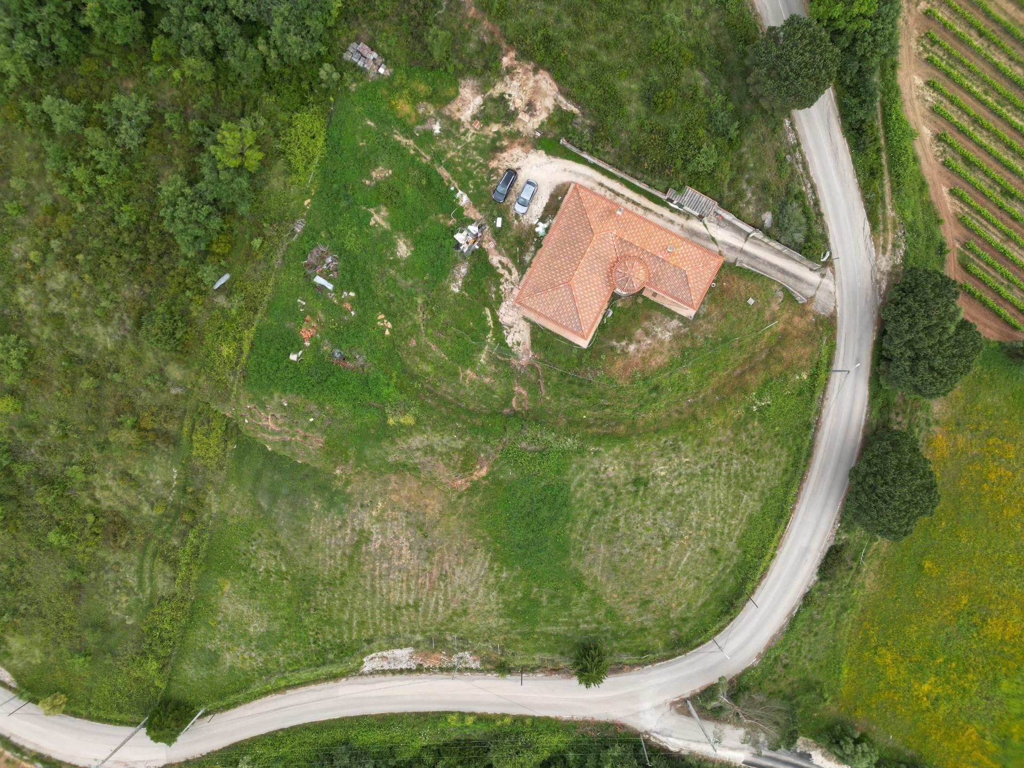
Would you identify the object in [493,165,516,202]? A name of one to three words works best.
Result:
car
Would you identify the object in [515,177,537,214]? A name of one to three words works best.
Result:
car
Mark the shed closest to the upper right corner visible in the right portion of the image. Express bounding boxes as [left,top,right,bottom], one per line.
[665,185,718,219]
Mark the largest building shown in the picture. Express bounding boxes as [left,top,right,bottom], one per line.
[510,182,724,346]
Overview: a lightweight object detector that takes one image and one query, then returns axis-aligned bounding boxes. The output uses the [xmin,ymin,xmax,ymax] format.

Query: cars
[515,177,537,214]
[493,165,516,202]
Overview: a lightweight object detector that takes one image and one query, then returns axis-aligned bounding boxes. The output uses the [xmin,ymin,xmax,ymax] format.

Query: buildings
[665,185,718,219]
[510,182,724,346]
